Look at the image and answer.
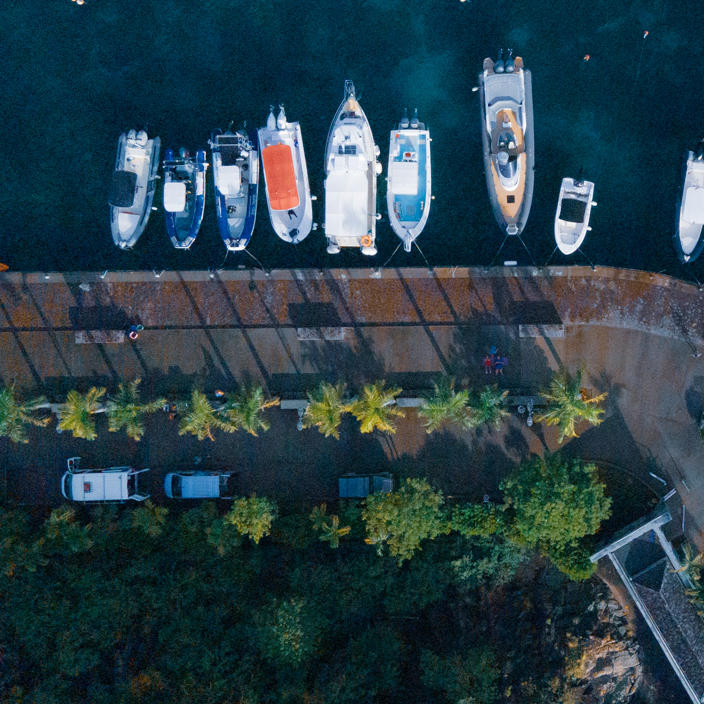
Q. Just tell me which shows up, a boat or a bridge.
boat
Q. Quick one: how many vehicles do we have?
3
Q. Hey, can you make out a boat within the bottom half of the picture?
No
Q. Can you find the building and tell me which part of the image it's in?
bottom right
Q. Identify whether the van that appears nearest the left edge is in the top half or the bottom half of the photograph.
bottom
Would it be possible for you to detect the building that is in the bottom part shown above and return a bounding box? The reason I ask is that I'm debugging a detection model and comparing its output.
[590,503,704,704]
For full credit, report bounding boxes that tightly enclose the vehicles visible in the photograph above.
[62,452,154,504]
[165,470,239,500]
[339,472,394,499]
